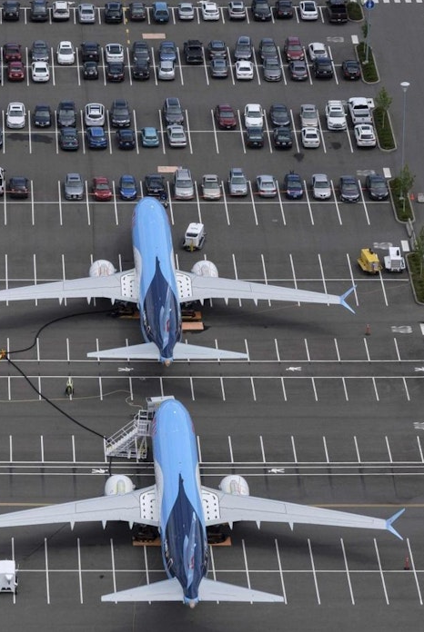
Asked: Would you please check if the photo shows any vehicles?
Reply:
Yes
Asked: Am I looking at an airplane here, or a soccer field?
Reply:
airplane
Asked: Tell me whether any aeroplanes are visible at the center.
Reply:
Yes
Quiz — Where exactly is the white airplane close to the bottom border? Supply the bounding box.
[0,399,406,613]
